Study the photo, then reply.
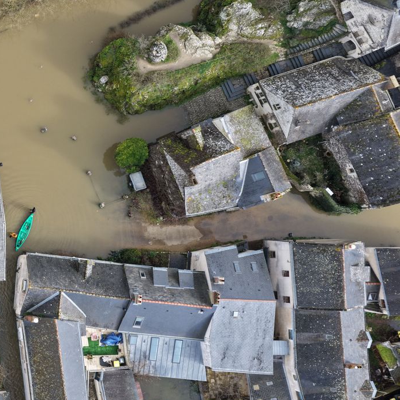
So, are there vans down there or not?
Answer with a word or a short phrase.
No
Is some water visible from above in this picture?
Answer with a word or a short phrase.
Yes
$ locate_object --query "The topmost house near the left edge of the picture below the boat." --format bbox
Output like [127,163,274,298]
[15,251,131,329]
